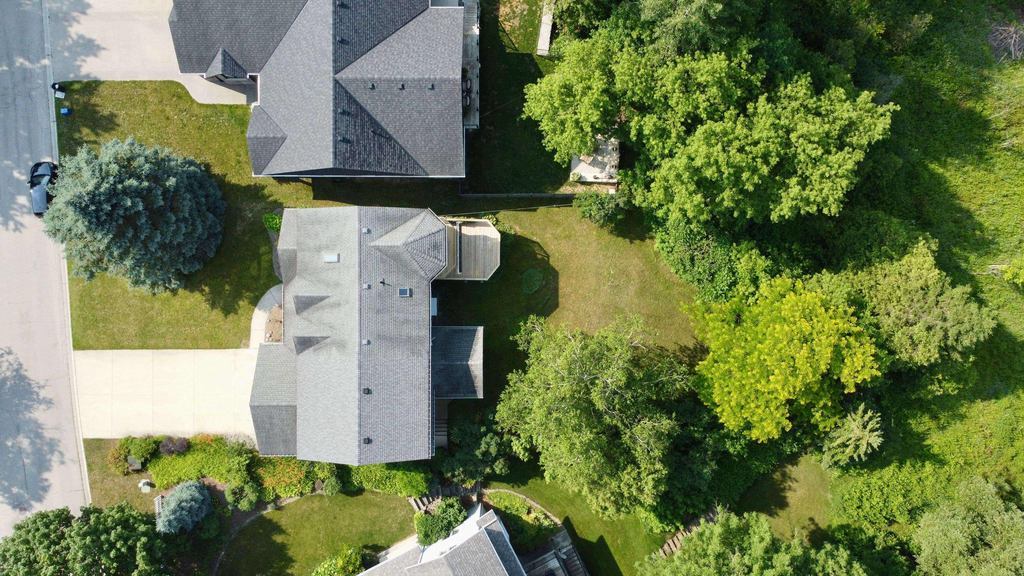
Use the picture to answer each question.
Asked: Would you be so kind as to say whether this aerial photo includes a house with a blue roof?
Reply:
No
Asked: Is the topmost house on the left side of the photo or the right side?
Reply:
left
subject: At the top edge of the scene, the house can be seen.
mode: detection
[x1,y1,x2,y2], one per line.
[162,0,464,180]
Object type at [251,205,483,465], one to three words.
house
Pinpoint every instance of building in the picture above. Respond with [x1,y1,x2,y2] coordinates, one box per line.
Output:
[251,205,483,465]
[162,0,464,180]
[350,500,528,576]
